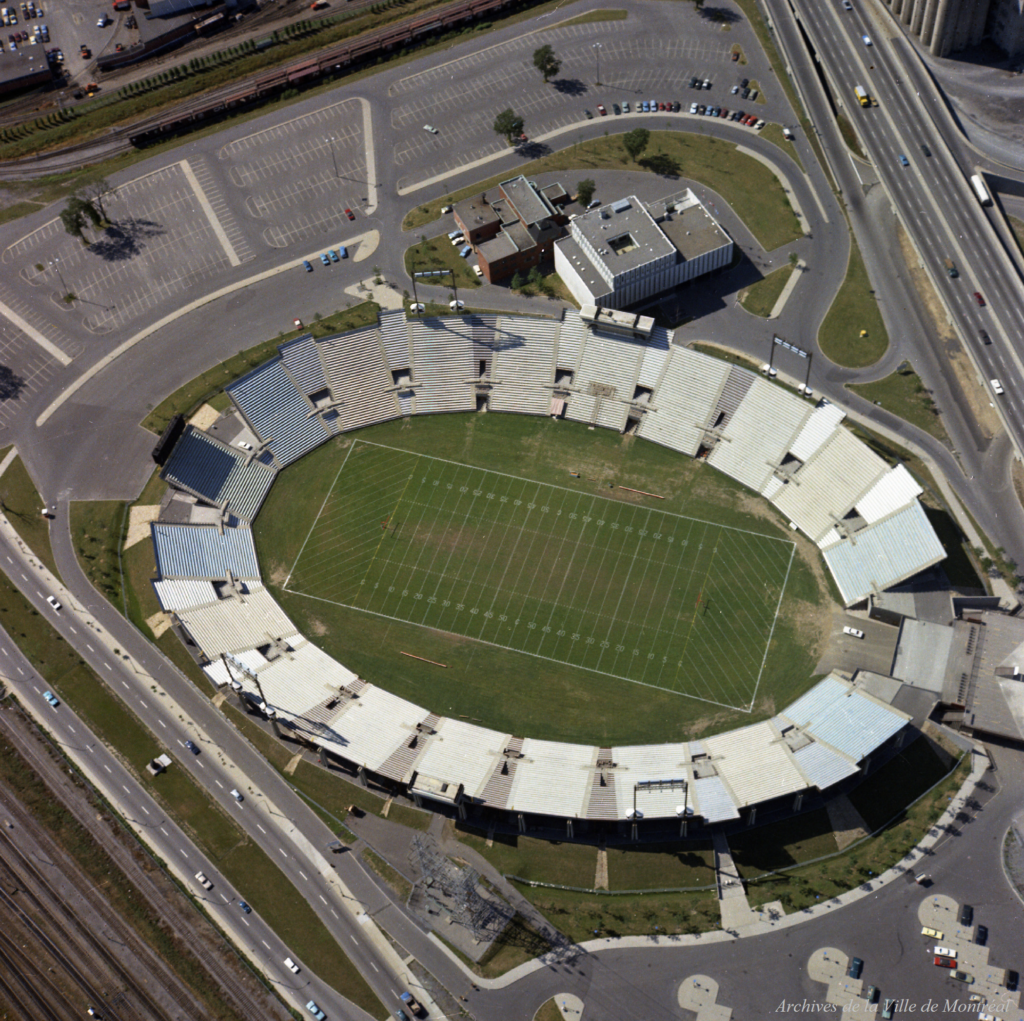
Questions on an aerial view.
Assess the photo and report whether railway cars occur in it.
Yes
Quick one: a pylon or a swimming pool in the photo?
pylon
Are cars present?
Yes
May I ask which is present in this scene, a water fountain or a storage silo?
storage silo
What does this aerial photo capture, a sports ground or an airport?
sports ground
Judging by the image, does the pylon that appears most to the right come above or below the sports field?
below it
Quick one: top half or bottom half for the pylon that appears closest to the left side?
bottom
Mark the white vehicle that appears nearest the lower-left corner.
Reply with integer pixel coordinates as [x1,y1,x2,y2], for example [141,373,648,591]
[195,872,213,889]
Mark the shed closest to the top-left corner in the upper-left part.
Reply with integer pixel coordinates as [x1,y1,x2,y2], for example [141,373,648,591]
[0,43,60,103]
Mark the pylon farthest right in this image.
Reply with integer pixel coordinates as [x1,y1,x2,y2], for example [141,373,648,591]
[457,880,508,944]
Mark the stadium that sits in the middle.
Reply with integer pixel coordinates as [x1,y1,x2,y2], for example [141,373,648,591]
[123,310,944,841]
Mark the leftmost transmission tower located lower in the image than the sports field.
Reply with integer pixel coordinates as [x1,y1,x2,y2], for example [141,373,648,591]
[401,849,460,905]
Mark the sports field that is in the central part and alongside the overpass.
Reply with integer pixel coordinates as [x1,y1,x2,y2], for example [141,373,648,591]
[252,411,845,747]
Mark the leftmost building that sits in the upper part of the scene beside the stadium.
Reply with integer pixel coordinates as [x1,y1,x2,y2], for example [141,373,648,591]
[453,175,566,284]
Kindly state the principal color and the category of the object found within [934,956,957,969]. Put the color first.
red vehicle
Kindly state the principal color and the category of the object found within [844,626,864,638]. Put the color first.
white vehicle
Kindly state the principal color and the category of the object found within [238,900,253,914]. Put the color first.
blue car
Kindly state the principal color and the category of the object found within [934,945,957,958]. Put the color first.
white vehicle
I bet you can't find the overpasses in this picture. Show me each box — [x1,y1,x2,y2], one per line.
[786,0,1024,466]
